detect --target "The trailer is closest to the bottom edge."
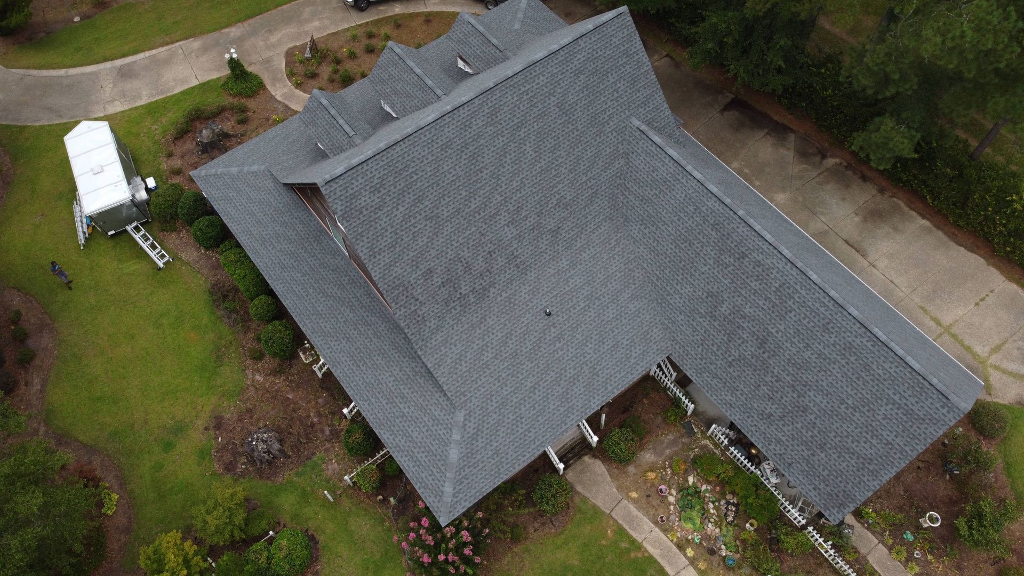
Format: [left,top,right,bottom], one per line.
[63,121,153,241]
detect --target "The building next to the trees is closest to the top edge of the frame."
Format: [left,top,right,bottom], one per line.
[188,0,984,528]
